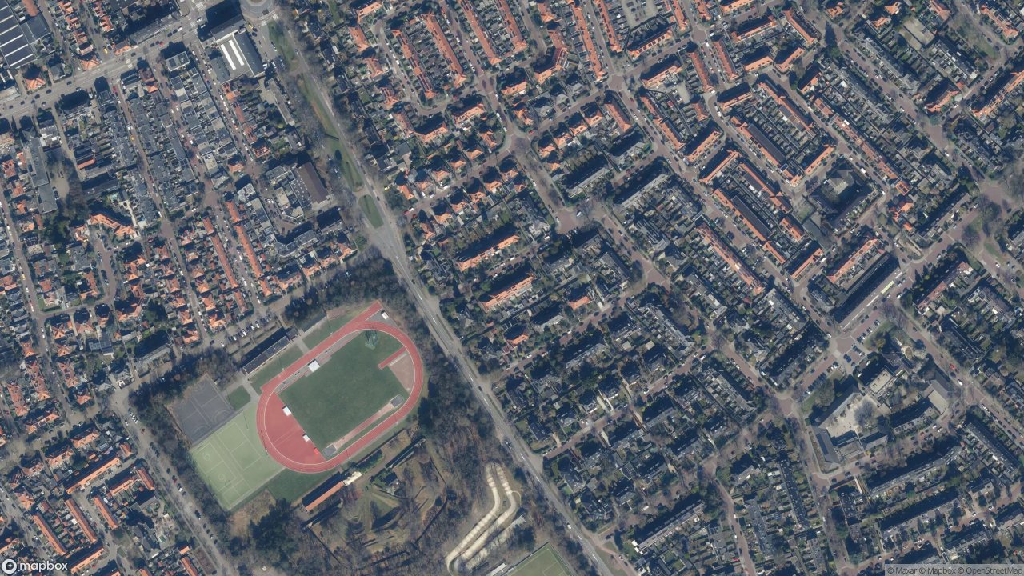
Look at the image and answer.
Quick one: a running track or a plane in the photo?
running track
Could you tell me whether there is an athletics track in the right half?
No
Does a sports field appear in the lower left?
Yes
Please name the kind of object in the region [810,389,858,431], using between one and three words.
building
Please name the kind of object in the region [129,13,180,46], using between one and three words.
building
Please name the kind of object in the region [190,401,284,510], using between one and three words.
sports field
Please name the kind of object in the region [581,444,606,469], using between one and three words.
house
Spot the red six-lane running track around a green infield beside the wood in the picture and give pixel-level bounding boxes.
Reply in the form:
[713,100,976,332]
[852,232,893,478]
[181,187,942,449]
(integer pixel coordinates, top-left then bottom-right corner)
[256,300,423,473]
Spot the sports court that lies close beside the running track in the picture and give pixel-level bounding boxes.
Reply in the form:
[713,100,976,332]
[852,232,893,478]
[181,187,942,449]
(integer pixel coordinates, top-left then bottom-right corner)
[171,375,235,446]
